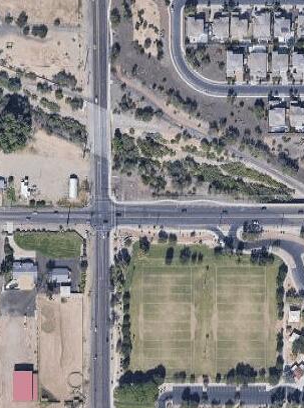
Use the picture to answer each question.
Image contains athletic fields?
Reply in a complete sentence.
Yes, the photo shows an athletic field.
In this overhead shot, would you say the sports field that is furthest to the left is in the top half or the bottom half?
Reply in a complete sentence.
You can find the sports field that is furthest to the left in the bottom half.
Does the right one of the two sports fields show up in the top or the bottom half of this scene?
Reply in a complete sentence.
Seen from above, the right one of the two sports fields lies in the bottom half of the view.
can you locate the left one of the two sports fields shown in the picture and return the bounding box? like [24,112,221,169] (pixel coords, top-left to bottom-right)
[143,265,192,374]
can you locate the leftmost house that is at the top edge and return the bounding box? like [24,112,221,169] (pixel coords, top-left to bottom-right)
[187,14,204,46]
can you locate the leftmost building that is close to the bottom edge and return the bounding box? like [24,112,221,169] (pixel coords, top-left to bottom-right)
[14,371,32,400]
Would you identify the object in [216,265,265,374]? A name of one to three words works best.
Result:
sports field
